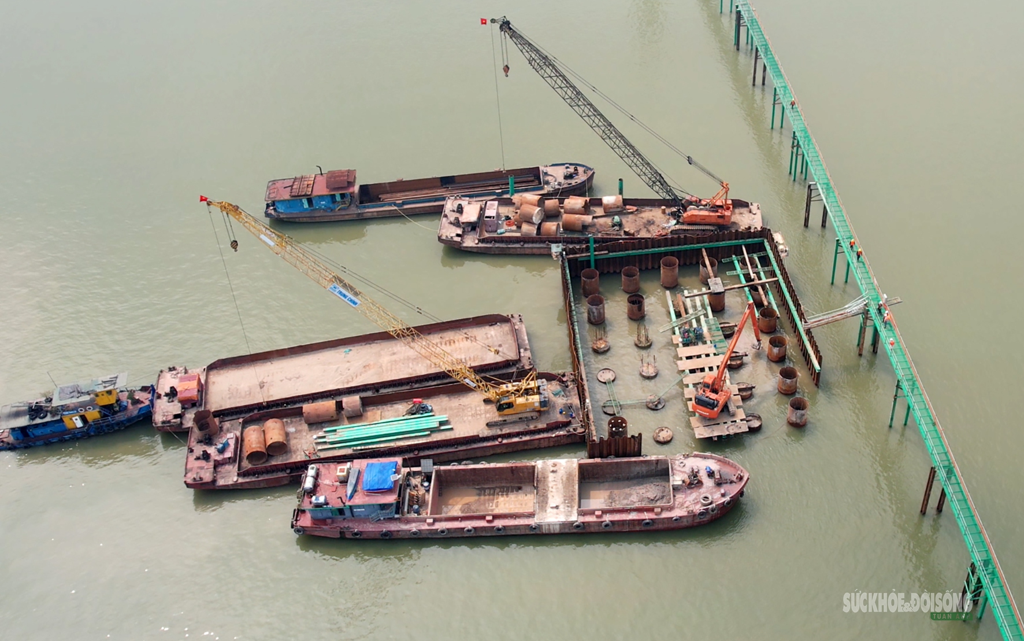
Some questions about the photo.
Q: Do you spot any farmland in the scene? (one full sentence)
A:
No, the picture contains no farmland.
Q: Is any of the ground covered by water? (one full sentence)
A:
Yes, water can be seen from above here.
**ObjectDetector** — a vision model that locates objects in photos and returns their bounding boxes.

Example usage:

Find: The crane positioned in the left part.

[209,199,549,429]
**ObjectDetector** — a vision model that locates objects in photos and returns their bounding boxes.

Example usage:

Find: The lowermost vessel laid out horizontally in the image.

[289,450,751,543]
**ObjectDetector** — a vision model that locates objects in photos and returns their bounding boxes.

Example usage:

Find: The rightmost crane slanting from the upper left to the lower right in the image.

[491,21,730,236]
